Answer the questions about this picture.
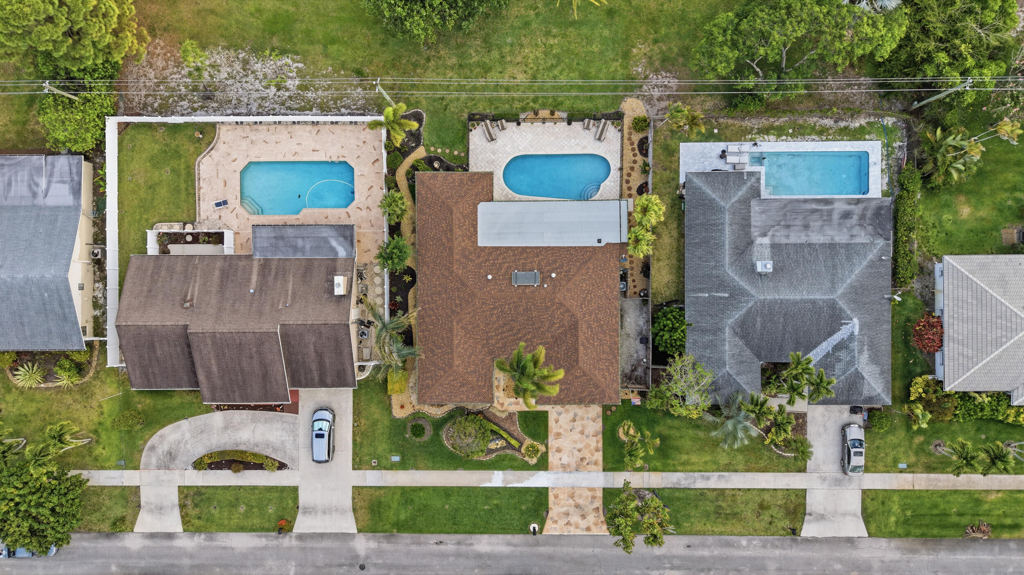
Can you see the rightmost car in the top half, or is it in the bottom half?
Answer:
bottom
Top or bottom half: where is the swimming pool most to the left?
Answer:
top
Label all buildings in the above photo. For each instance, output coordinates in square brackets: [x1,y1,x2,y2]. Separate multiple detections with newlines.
[684,171,892,406]
[0,154,94,352]
[415,171,633,405]
[114,224,360,404]
[928,254,1024,406]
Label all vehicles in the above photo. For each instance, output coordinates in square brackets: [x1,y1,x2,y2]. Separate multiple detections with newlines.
[840,424,868,476]
[309,407,336,463]
[0,538,60,563]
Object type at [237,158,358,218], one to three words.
swimming pool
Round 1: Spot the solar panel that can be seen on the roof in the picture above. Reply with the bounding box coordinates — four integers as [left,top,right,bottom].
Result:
[512,270,540,286]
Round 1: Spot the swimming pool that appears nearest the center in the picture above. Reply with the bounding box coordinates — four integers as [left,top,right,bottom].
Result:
[498,148,616,201]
